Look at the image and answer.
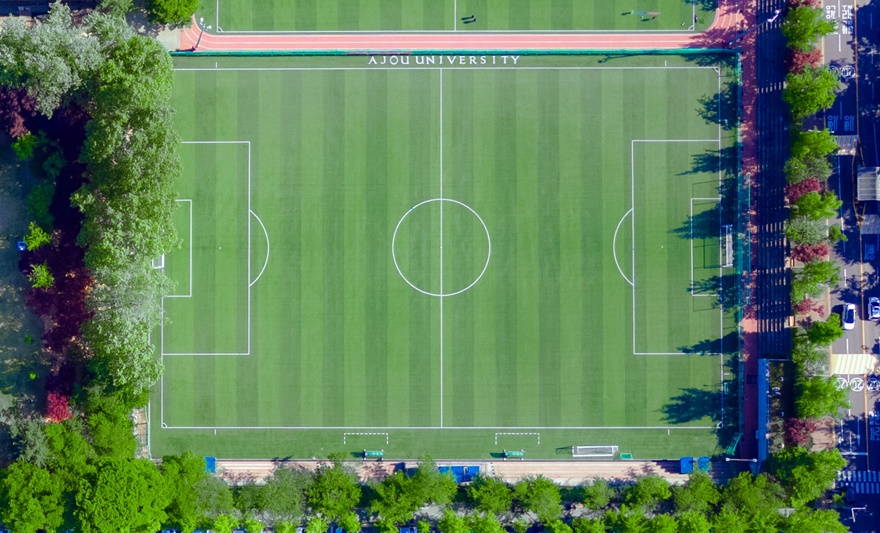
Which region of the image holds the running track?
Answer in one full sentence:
Look in the top portion of the view to spot the running track.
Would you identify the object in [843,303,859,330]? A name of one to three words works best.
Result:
car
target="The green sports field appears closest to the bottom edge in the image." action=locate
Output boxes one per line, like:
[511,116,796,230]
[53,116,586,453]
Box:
[149,54,738,459]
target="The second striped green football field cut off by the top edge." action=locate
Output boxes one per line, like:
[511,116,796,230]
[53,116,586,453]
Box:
[194,0,717,33]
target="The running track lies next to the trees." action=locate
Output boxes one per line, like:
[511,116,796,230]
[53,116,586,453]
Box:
[181,0,742,54]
